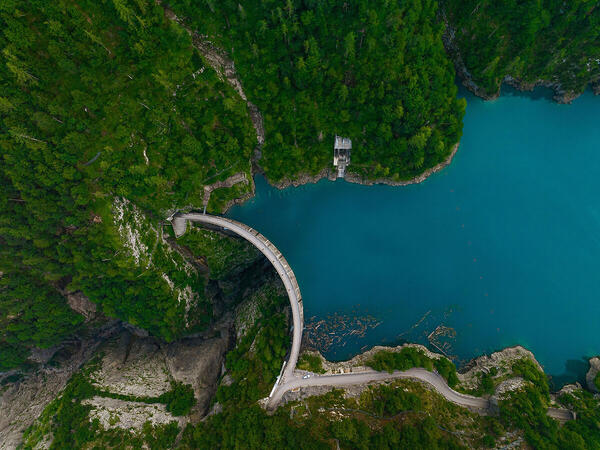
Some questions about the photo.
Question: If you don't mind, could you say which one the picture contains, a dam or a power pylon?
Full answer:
Visible in the photo is a dam.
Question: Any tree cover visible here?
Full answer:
Yes, there is tree cover in the image.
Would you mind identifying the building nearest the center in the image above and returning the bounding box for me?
[334,137,352,178]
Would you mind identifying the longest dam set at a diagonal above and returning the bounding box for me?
[172,212,306,380]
